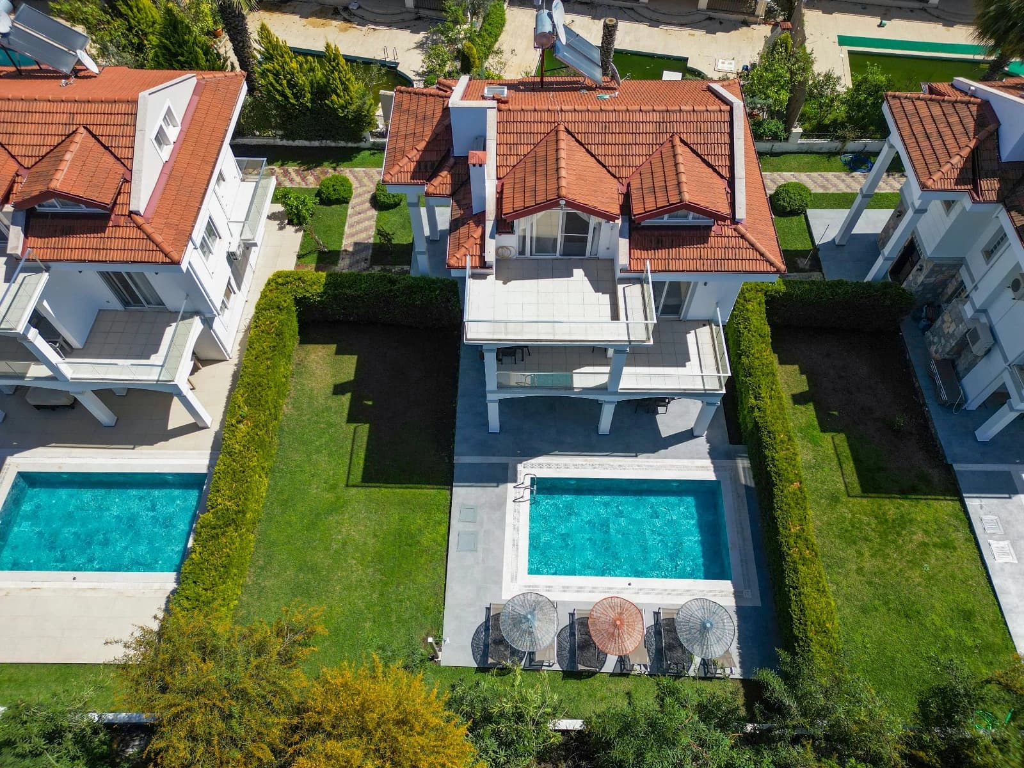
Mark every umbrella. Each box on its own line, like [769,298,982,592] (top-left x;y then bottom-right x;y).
[587,599,645,658]
[500,593,558,651]
[676,601,734,660]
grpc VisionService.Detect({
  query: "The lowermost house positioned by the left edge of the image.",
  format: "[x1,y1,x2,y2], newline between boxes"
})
[0,69,278,432]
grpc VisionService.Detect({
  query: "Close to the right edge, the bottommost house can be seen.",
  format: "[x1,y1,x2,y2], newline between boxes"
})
[828,78,1024,445]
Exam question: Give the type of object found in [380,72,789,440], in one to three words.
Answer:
house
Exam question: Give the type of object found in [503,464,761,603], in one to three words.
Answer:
swimming pool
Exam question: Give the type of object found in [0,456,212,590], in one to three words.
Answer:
swimming pool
